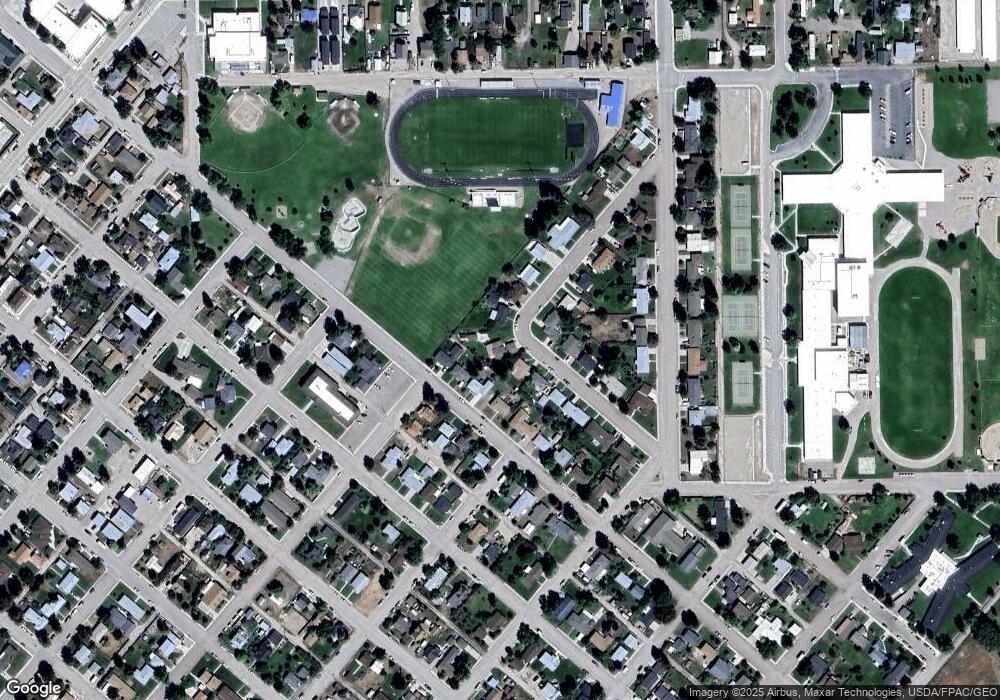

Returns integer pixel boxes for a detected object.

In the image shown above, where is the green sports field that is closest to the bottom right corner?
[879,268,952,459]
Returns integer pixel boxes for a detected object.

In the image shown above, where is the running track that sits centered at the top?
[389,86,600,185]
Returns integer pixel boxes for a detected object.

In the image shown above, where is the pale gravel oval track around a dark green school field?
[871,260,963,466]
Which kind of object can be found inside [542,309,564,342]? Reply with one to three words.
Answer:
house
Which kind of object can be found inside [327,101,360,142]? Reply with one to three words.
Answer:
baseball field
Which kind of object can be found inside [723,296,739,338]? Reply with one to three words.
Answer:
tennis court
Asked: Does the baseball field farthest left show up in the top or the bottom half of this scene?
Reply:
top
